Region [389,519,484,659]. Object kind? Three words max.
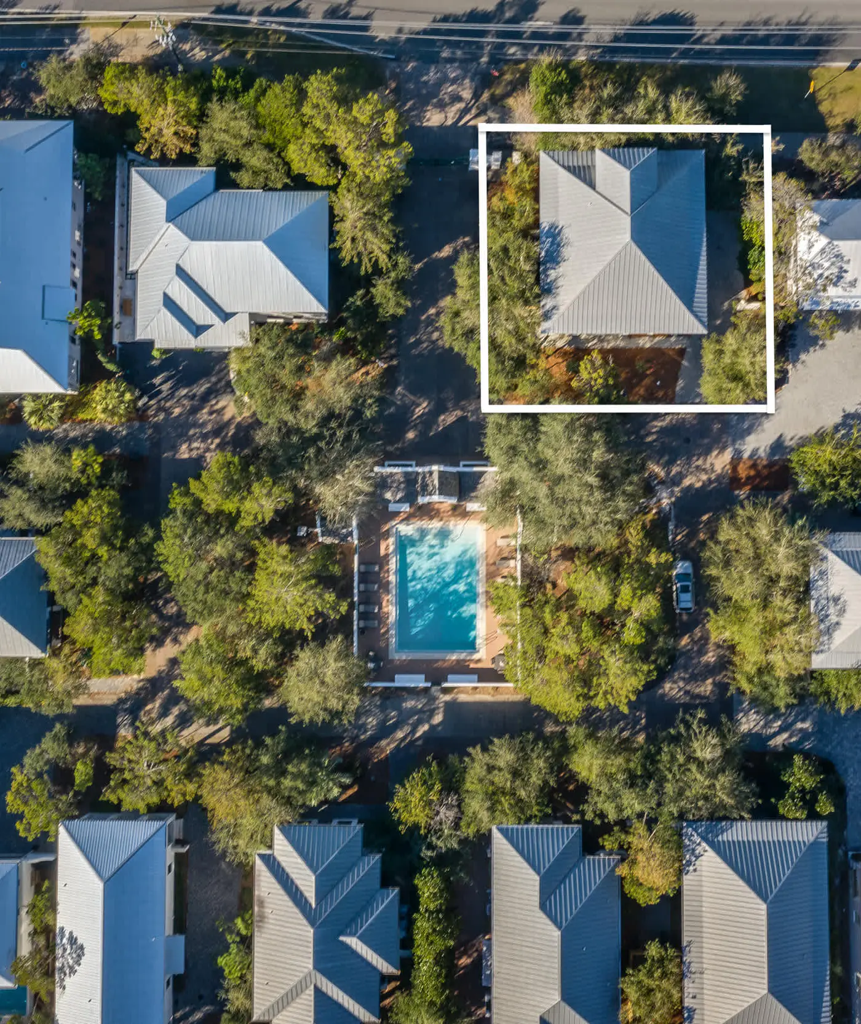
swimming pool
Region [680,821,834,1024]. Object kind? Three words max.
house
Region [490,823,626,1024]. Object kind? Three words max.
house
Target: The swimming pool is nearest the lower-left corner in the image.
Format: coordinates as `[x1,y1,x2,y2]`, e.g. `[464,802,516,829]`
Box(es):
[0,988,26,1016]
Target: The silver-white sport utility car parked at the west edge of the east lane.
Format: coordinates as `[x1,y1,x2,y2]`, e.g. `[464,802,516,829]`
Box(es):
[670,561,695,613]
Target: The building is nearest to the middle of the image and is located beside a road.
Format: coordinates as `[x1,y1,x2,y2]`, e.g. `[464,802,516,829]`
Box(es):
[374,463,495,506]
